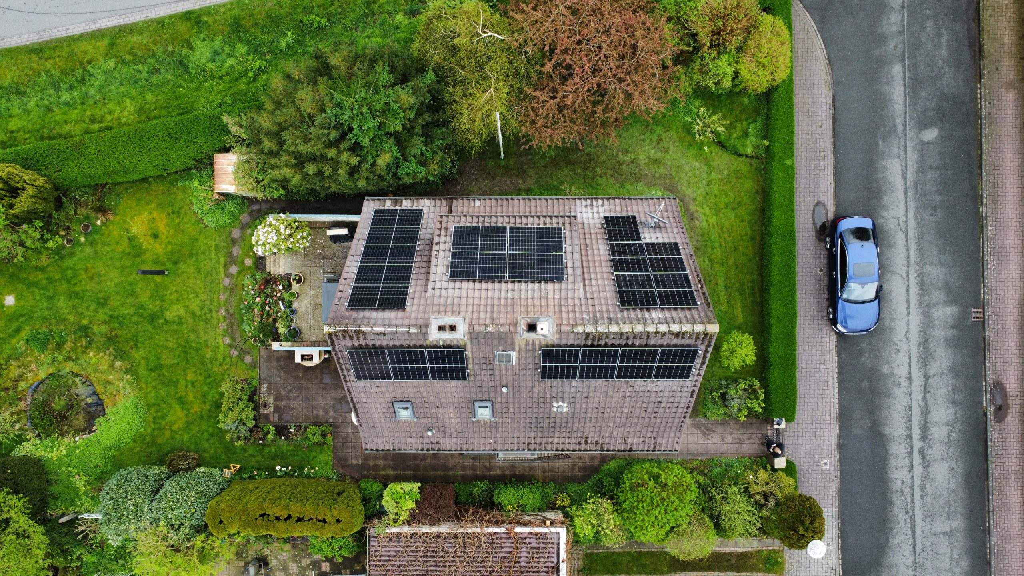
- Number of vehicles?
1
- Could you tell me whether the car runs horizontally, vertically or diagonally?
vertically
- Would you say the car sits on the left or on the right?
right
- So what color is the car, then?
blue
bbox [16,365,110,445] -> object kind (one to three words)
pond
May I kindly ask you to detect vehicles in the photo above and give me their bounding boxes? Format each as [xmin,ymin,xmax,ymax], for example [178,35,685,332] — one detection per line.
[823,216,885,336]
